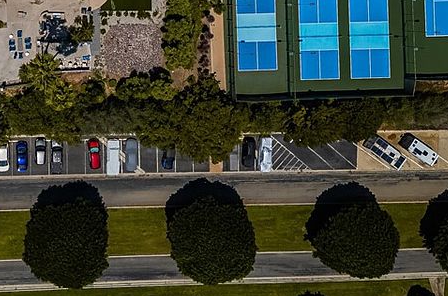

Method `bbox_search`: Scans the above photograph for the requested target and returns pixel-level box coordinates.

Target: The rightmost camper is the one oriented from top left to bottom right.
[395,130,441,168]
